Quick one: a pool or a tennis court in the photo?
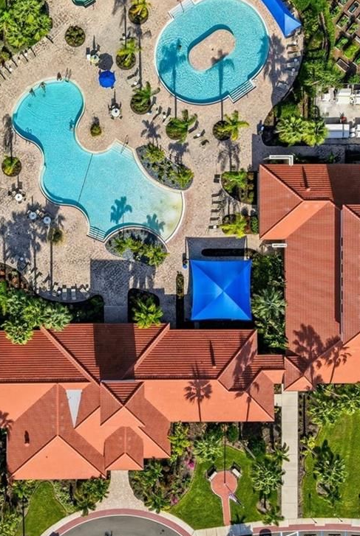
pool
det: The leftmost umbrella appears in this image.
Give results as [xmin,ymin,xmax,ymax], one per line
[100,69,117,85]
